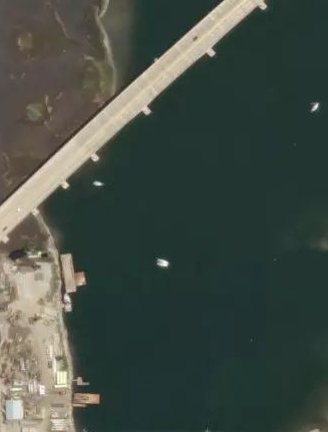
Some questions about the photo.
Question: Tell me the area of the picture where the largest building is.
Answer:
bottom left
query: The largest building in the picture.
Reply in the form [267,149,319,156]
[4,399,27,423]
